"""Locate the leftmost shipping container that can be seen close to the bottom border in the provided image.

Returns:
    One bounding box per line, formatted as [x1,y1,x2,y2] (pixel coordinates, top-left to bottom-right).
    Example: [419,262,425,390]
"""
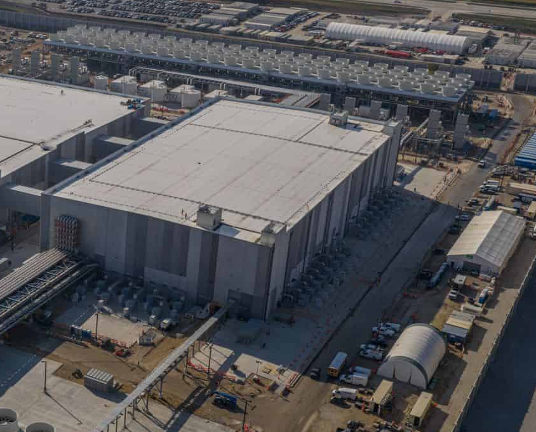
[369,380,395,413]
